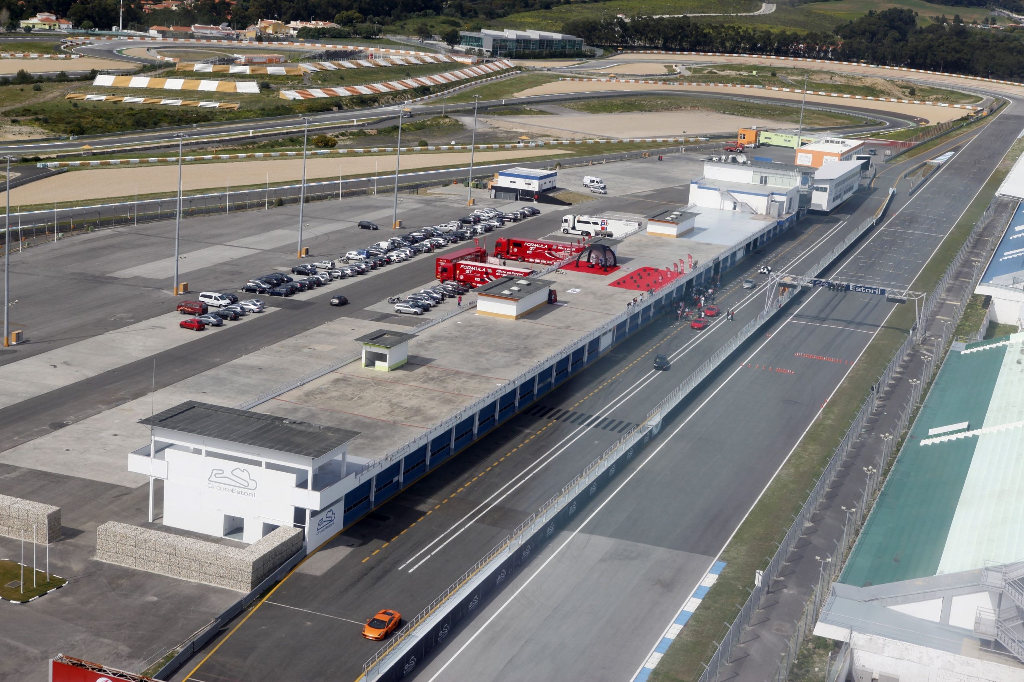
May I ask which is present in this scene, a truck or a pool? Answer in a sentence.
The one in the frame is a truck.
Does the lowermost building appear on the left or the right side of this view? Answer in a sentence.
It is on the left.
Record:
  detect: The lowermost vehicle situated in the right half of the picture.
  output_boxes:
[652,354,670,371]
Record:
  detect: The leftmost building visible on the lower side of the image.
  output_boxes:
[128,400,375,555]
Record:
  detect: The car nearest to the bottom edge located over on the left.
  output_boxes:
[361,610,402,641]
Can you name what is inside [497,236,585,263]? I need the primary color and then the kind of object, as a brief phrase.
red truck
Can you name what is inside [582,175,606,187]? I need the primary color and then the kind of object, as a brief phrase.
white vehicle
